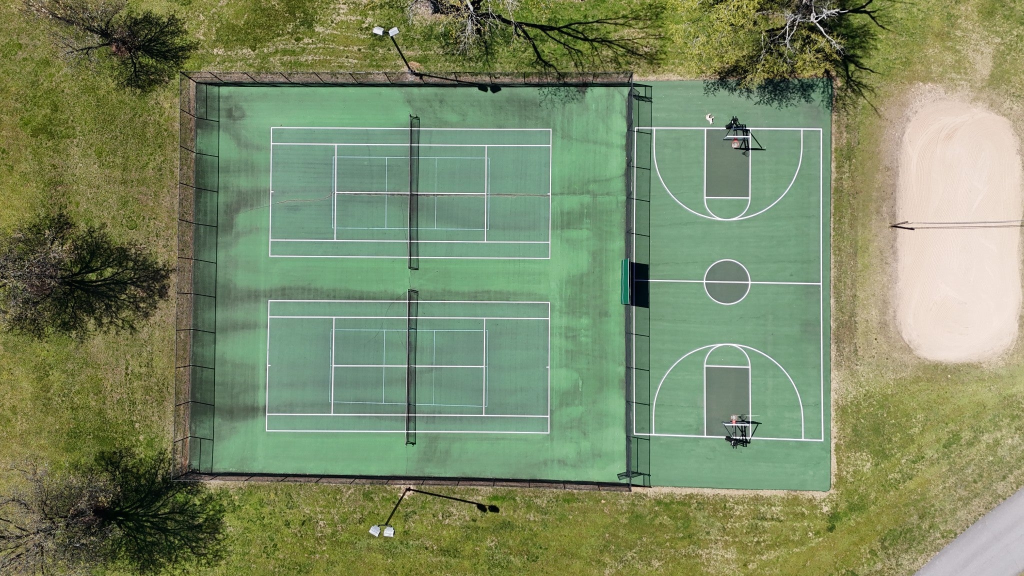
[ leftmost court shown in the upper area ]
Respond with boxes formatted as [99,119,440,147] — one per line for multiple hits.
[269,127,552,259]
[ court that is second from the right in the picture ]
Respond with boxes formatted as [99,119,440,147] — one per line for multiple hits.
[632,78,834,491]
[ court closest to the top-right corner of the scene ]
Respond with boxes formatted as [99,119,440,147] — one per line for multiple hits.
[896,99,1024,363]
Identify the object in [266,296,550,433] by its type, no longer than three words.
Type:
tennis court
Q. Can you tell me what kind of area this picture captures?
sports ground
